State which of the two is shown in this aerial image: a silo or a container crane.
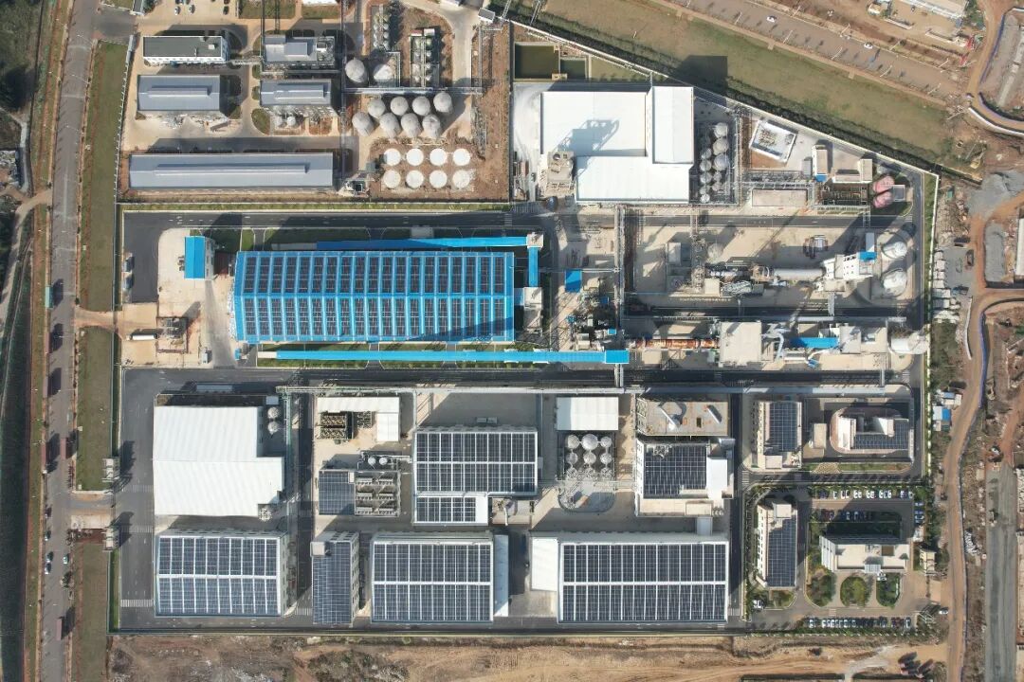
silo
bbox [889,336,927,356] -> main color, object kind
white silo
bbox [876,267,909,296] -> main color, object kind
white silo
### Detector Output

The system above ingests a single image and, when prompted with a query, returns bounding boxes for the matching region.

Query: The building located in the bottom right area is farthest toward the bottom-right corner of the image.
[913,547,934,572]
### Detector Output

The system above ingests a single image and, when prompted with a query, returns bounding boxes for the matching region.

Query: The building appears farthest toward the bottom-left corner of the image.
[103,524,122,550]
